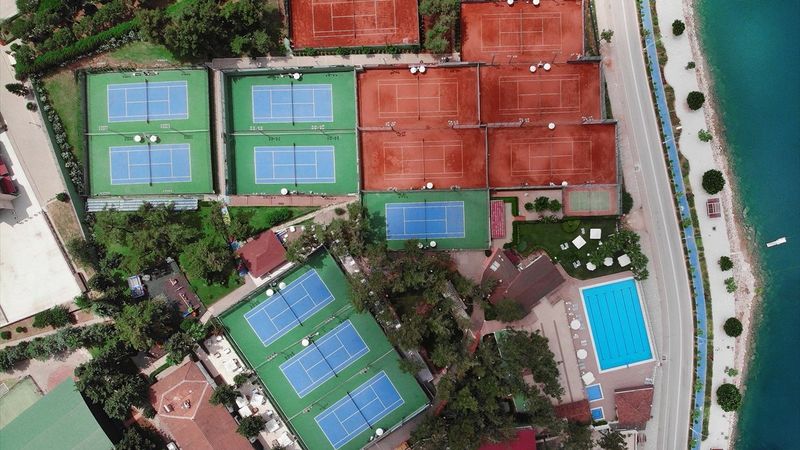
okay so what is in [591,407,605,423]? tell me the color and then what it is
blue swimming pool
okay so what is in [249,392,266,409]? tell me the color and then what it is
white umbrella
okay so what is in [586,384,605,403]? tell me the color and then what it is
blue swimming pool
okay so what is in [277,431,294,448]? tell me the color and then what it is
white umbrella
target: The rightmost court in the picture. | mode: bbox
[563,187,618,216]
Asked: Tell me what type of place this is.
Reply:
sports ground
